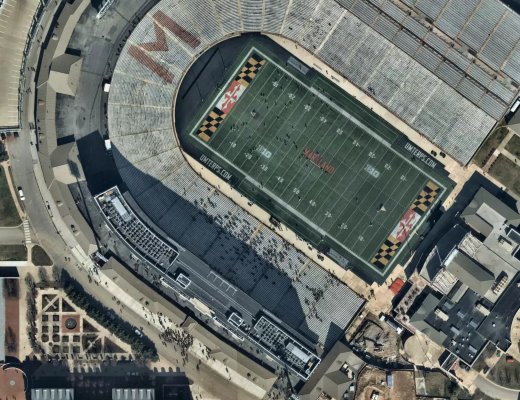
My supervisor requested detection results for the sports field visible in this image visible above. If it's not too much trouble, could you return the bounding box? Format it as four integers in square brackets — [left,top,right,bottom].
[176,32,459,288]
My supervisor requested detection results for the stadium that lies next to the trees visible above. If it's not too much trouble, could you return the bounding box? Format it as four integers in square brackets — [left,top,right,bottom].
[108,0,520,349]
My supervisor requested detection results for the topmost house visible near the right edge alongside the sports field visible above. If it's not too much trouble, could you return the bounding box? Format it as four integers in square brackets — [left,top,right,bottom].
[419,187,520,304]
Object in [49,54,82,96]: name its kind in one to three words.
building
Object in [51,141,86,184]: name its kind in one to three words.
building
